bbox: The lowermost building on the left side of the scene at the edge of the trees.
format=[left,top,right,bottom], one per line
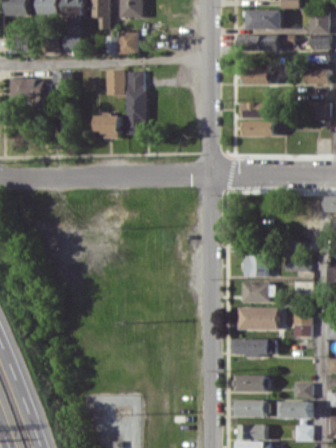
[93,114,122,136]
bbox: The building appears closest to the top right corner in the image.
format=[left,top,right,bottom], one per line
[308,18,332,36]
